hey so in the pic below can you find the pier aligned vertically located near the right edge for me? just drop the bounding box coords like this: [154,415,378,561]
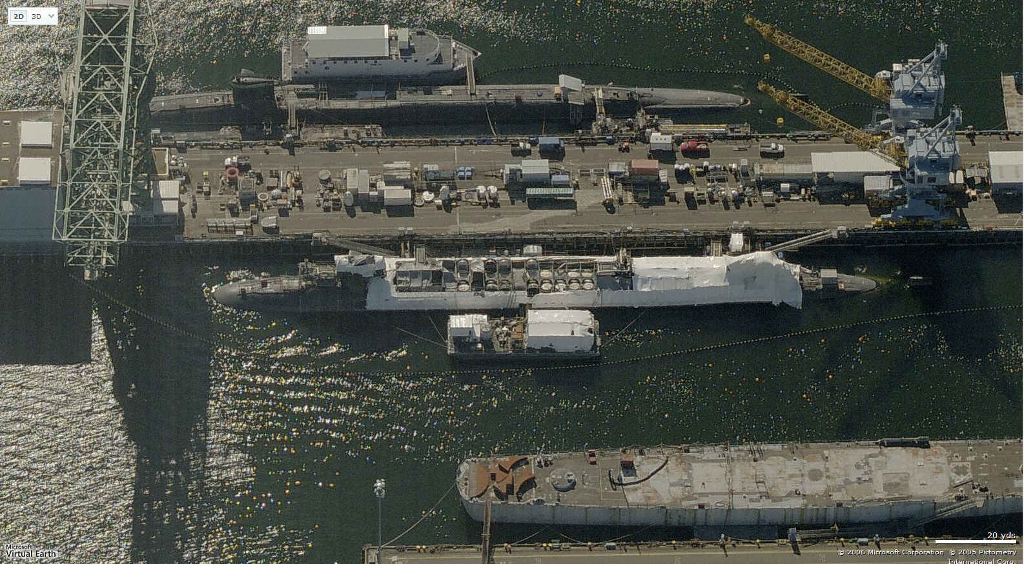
[1002,73,1024,134]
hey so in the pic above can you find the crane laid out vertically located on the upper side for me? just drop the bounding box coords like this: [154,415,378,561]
[49,0,160,300]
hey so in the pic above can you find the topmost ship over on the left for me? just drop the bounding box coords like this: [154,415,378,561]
[282,21,481,82]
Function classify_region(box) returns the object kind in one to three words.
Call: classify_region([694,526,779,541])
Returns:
ship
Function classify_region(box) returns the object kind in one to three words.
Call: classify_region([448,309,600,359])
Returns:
ship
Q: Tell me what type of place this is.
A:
port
